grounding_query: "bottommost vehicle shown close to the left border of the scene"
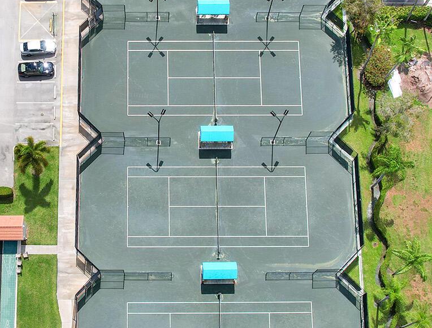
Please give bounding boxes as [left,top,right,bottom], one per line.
[18,63,53,80]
